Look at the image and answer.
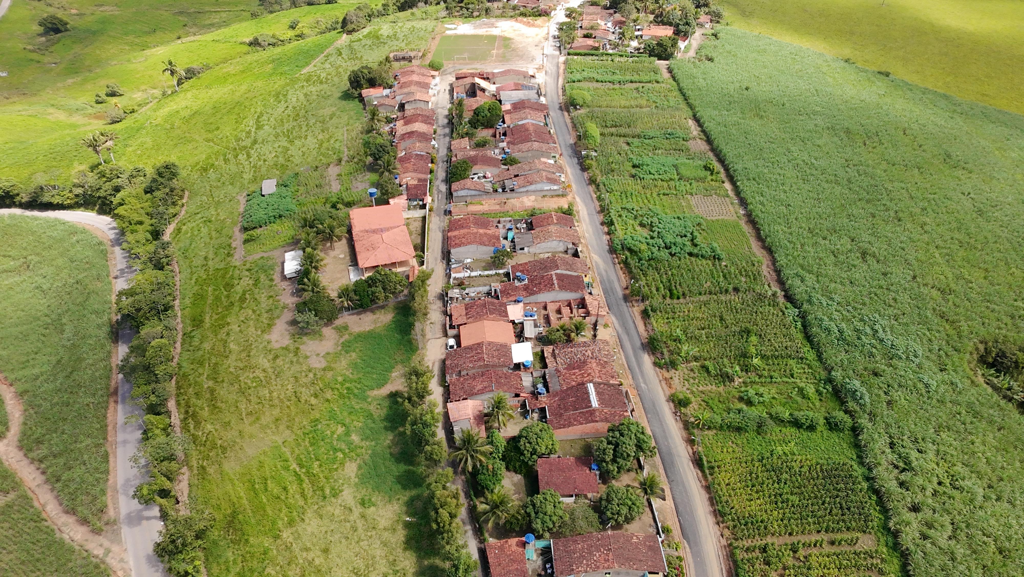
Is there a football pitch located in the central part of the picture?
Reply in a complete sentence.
No, I can find no football pitch in the central part of the picture.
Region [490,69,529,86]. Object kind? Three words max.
house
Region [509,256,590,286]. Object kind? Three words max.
house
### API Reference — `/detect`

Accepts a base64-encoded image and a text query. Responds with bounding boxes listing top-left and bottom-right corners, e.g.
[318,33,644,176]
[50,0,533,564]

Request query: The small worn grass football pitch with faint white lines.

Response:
[433,35,497,60]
